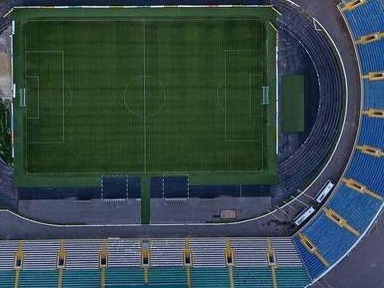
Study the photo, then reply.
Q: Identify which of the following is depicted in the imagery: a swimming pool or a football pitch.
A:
football pitch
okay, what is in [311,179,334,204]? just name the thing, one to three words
bus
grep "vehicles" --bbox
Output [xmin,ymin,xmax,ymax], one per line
[291,204,317,227]
[311,179,334,204]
